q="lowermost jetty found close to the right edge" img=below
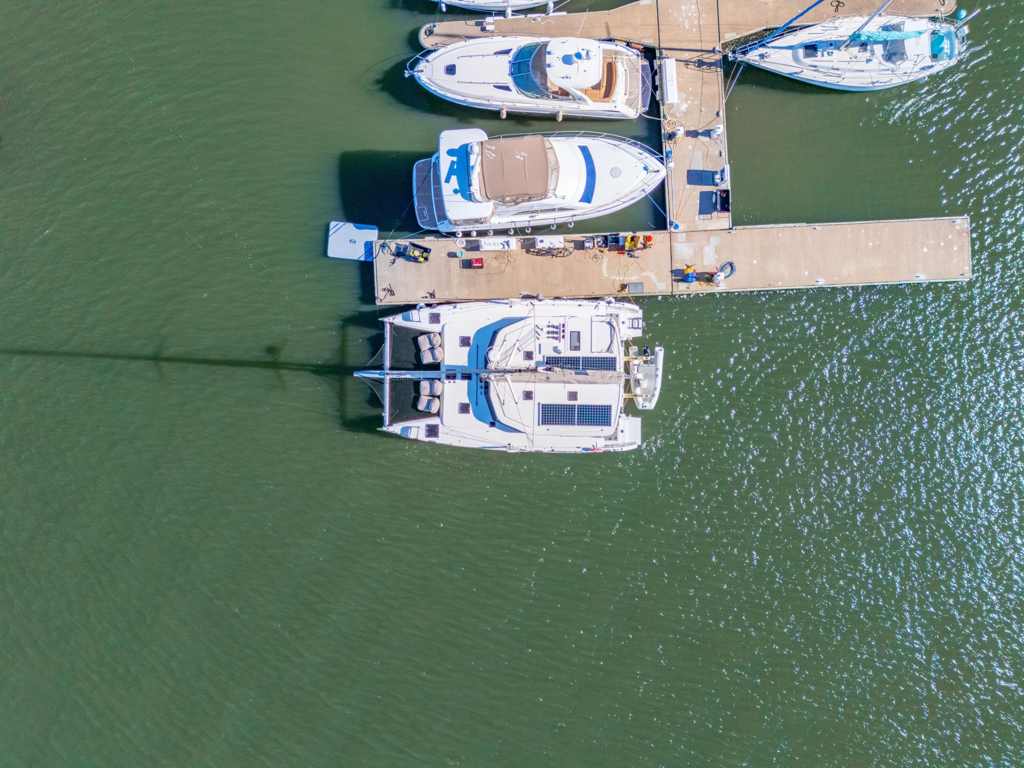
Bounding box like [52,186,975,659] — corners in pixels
[670,216,977,294]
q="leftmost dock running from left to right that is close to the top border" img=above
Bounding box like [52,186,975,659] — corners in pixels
[420,0,657,51]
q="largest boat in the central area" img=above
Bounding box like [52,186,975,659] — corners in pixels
[354,299,650,453]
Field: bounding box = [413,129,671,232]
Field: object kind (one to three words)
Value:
boat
